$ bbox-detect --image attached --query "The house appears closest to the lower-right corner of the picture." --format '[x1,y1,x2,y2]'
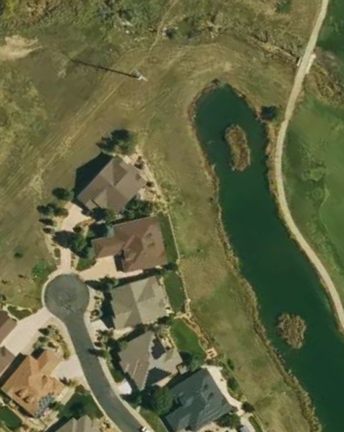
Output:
[161,365,232,432]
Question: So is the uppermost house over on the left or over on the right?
left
